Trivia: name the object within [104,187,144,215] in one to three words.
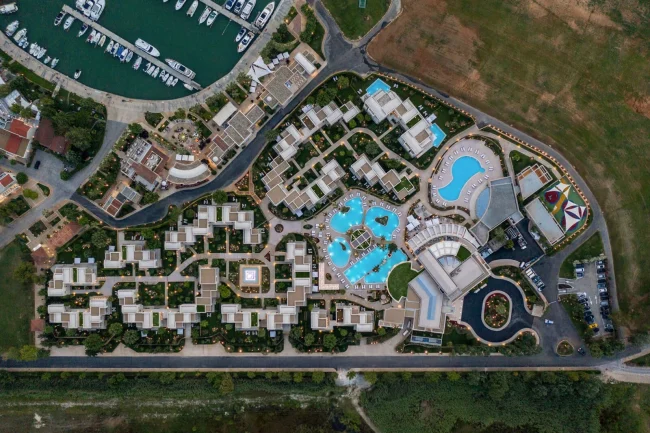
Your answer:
building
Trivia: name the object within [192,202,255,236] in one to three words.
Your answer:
house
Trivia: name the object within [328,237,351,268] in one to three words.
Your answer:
swimming pool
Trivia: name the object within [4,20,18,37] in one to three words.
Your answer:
boat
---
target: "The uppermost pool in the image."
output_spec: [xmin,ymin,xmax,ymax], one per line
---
[366,77,392,97]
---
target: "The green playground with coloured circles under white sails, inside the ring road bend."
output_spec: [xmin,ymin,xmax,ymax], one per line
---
[542,177,588,236]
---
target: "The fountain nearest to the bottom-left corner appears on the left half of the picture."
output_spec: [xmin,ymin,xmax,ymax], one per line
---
[239,265,262,287]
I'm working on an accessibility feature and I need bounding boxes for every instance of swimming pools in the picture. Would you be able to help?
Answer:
[437,155,486,201]
[343,246,408,285]
[328,237,351,268]
[364,206,400,241]
[329,196,364,234]
[366,77,392,97]
[429,123,446,147]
